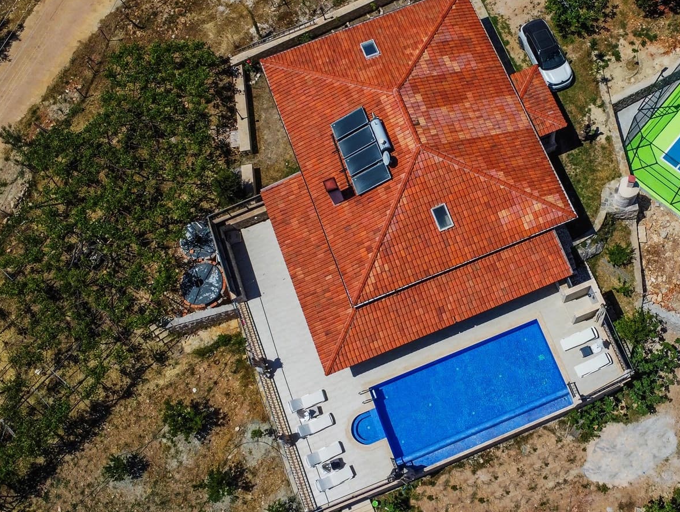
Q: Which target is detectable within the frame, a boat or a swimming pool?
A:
swimming pool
